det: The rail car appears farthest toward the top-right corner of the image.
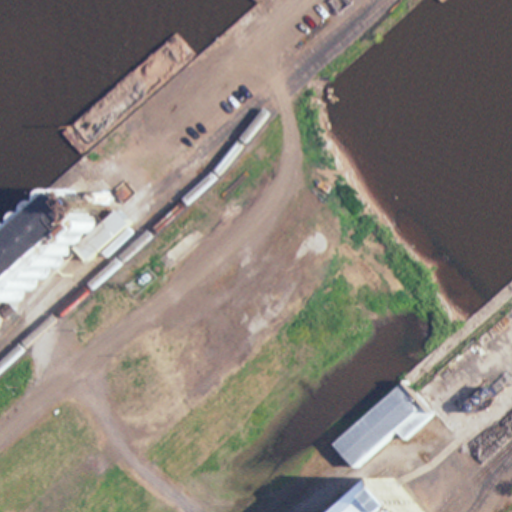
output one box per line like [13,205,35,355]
[240,104,274,140]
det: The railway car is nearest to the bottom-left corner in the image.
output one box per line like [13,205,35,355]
[0,346,24,375]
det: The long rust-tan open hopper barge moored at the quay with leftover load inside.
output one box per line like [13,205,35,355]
[62,33,194,154]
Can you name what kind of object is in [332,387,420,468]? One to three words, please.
building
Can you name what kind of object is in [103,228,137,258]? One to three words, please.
rail car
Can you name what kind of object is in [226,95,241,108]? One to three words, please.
vehicle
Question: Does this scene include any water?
Yes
